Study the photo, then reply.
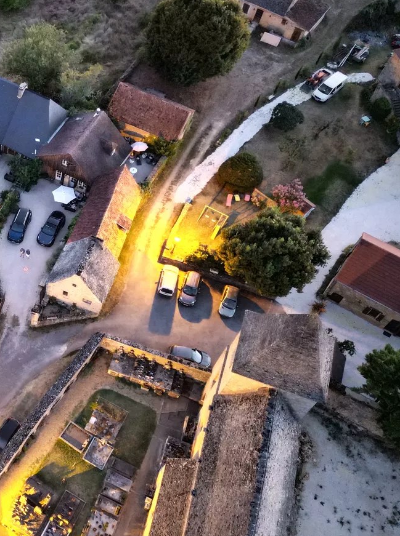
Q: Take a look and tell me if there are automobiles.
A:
Yes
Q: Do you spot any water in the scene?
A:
No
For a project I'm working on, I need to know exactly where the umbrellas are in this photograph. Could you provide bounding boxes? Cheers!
[130,140,149,162]
[49,184,78,210]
